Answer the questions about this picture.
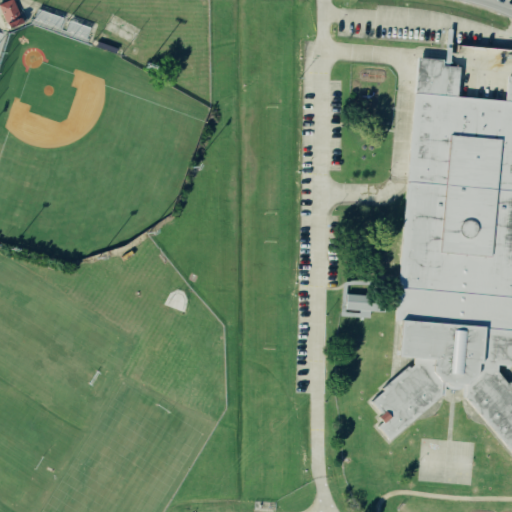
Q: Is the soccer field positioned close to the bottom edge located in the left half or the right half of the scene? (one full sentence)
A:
The soccer field positioned close to the bottom edge is on the left side of the image.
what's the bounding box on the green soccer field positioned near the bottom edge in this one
[44,384,202,512]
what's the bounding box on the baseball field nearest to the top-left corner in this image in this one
[0,24,209,254]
